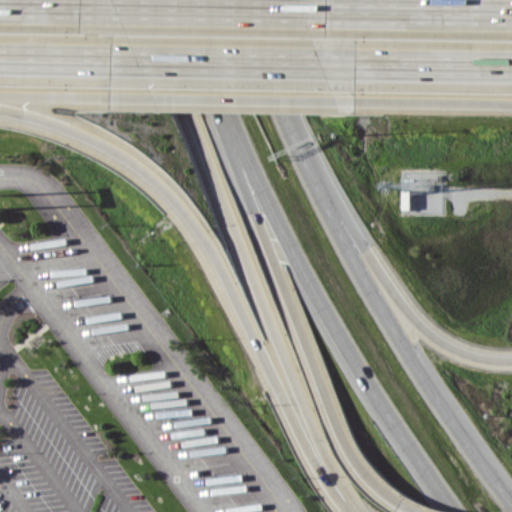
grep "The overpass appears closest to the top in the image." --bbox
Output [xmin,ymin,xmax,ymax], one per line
[112,0,341,116]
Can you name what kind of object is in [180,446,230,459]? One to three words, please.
vehicle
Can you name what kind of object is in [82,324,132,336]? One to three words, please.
vehicle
